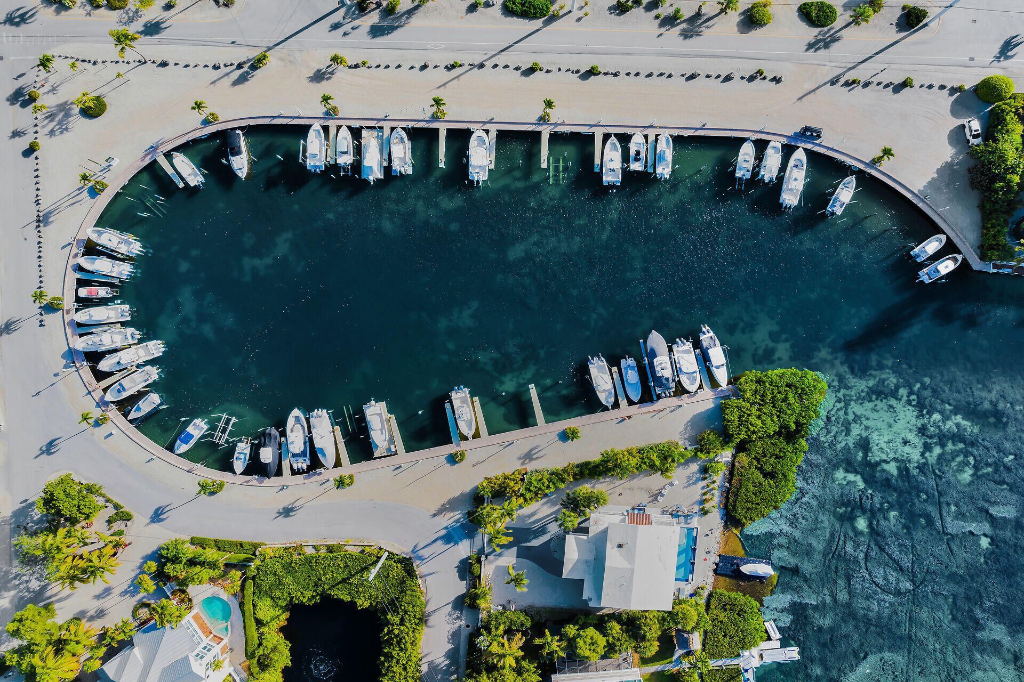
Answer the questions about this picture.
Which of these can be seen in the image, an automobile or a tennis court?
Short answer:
automobile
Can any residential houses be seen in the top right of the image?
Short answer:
No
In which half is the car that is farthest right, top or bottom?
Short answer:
top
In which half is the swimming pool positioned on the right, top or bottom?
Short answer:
bottom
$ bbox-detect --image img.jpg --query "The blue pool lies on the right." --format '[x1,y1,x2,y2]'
[674,526,698,585]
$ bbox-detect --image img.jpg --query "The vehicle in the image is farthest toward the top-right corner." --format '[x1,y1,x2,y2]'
[962,116,982,147]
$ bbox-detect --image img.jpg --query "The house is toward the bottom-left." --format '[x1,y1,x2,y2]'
[94,601,234,682]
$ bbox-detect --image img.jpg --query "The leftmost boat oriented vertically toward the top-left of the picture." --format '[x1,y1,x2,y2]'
[222,129,249,179]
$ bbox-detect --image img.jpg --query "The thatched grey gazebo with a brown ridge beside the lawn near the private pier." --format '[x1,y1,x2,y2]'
[674,628,700,649]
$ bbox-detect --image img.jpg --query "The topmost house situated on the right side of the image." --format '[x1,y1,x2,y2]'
[561,507,680,610]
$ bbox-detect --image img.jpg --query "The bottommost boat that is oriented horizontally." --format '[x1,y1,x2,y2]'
[763,644,805,661]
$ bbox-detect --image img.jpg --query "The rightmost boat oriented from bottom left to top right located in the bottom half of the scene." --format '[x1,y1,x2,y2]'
[173,414,211,454]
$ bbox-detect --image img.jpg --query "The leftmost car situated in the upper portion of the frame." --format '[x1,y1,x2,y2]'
[797,123,824,139]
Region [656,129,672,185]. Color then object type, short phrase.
white boat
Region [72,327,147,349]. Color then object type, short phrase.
white boat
